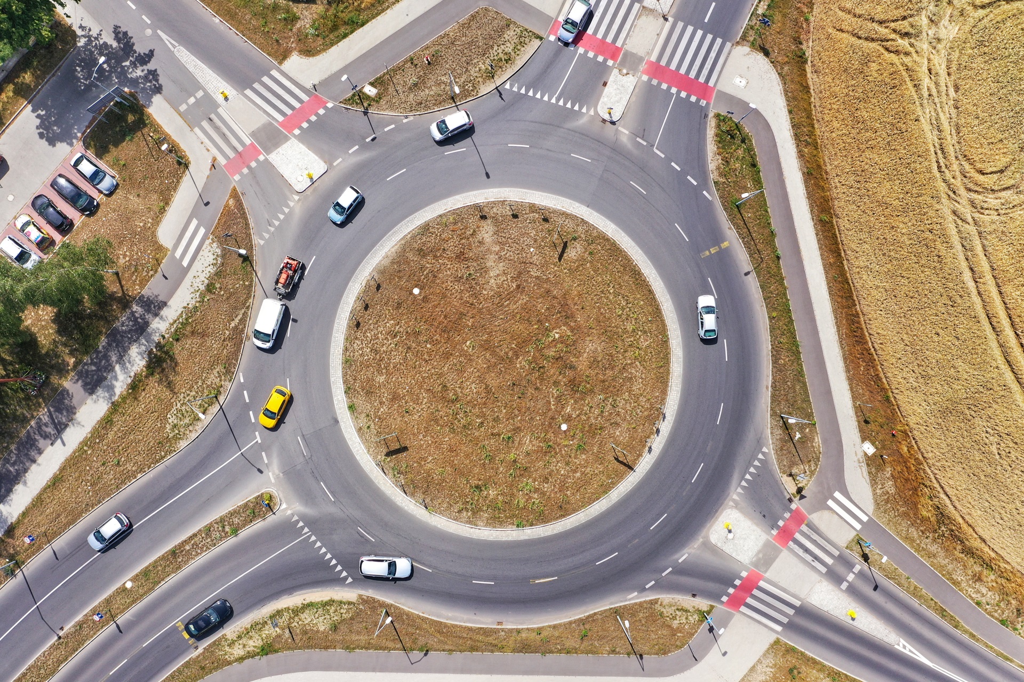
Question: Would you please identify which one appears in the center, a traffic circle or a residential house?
traffic circle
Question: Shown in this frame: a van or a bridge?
van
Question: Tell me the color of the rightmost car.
white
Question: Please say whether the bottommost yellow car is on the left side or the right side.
left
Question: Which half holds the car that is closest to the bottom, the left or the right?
left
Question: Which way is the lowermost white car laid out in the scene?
from side to side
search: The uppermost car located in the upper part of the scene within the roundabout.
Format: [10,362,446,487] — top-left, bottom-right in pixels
[430,109,474,143]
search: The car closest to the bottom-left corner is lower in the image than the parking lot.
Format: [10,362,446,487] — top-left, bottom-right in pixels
[88,511,132,551]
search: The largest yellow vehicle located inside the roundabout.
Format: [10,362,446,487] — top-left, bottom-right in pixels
[259,384,292,430]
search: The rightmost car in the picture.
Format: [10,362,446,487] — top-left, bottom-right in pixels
[695,294,719,339]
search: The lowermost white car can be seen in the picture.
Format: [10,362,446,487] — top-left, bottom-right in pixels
[359,555,412,581]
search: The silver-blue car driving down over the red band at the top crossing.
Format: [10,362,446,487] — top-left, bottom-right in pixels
[557,0,590,45]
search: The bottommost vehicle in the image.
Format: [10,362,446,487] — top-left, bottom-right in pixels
[183,596,234,640]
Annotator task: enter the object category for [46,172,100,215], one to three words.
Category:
car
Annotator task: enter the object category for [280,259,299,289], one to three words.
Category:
work vehicle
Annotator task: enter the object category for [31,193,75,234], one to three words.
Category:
car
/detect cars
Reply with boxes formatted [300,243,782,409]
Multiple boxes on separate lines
[69,152,119,195]
[88,511,132,551]
[557,0,590,45]
[0,235,44,276]
[359,555,412,581]
[31,193,75,234]
[46,172,100,215]
[430,109,474,143]
[259,384,292,430]
[695,294,719,339]
[328,184,364,224]
[183,596,234,640]
[14,214,55,251]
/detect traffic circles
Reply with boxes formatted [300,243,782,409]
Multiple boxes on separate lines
[230,91,771,628]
